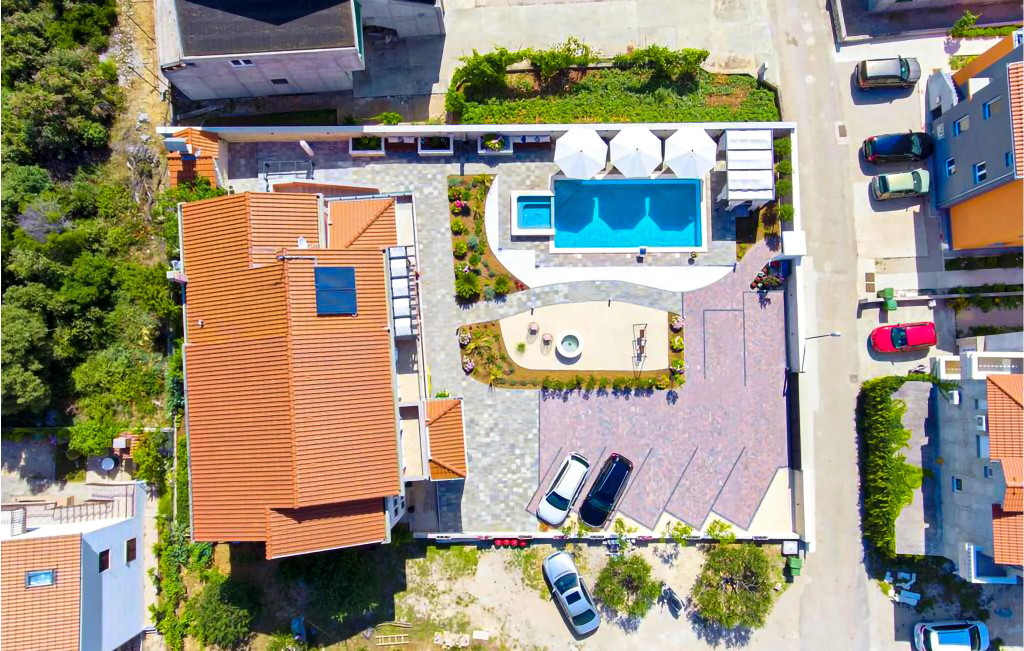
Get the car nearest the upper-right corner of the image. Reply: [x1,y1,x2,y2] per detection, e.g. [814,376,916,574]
[846,52,921,95]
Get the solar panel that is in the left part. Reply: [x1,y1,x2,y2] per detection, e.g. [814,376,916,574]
[315,266,358,317]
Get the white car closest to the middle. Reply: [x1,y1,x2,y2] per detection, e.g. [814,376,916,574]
[536,450,592,529]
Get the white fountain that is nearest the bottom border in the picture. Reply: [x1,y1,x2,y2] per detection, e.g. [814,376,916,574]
[556,330,584,358]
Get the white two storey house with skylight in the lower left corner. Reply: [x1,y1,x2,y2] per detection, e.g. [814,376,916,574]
[0,514,146,651]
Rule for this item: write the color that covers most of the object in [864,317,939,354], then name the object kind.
red car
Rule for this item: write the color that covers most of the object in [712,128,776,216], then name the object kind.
white gazebo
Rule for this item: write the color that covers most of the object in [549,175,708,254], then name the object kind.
blue swimming pool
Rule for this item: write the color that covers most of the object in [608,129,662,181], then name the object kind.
white umbrella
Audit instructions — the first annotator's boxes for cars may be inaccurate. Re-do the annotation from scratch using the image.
[580,449,634,530]
[864,317,939,354]
[854,126,931,166]
[846,52,921,95]
[536,450,592,529]
[863,165,929,202]
[905,618,989,651]
[541,546,601,639]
